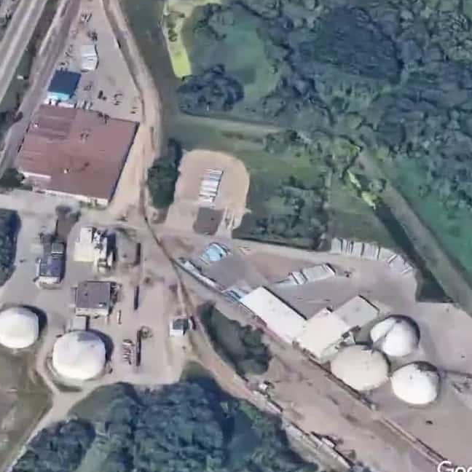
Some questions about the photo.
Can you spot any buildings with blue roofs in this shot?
Yes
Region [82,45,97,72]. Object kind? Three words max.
shed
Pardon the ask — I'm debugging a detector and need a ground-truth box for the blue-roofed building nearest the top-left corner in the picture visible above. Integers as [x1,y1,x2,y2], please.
[49,69,81,101]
